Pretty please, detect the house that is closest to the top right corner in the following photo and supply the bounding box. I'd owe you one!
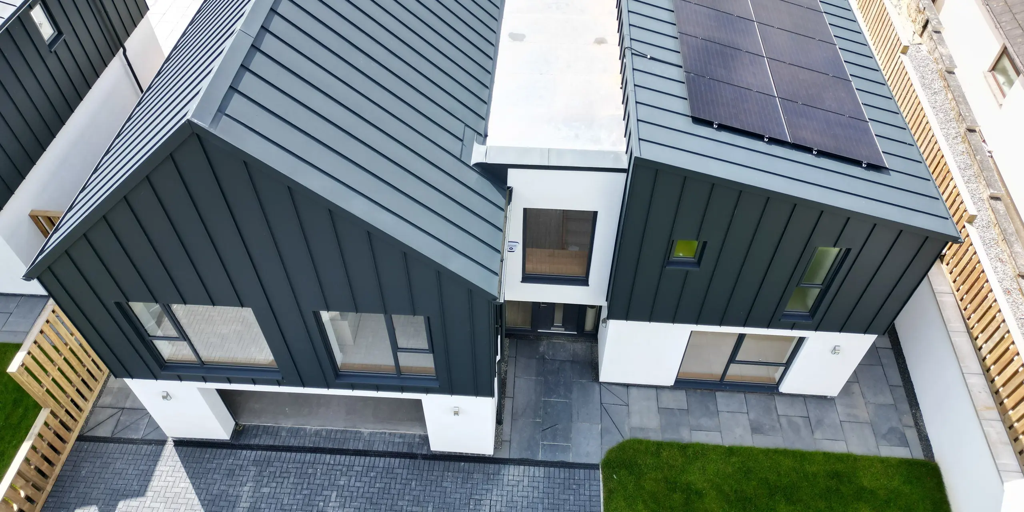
[930,0,1024,199]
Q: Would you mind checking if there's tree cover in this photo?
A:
No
